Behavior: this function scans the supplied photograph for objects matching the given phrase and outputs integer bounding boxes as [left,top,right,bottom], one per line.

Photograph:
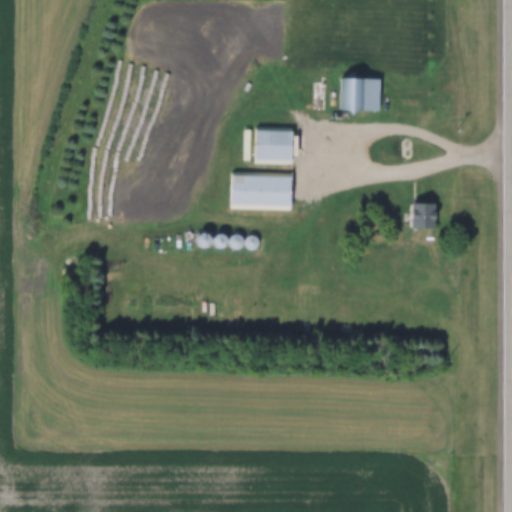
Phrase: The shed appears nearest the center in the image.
[232,172,294,212]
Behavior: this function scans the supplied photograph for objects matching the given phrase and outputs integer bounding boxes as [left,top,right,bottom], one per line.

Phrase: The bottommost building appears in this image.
[404,202,438,232]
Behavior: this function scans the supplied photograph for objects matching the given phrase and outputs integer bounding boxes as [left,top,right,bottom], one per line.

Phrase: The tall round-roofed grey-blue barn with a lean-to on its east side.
[340,76,382,116]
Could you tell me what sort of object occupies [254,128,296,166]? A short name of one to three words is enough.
shed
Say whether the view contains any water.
No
